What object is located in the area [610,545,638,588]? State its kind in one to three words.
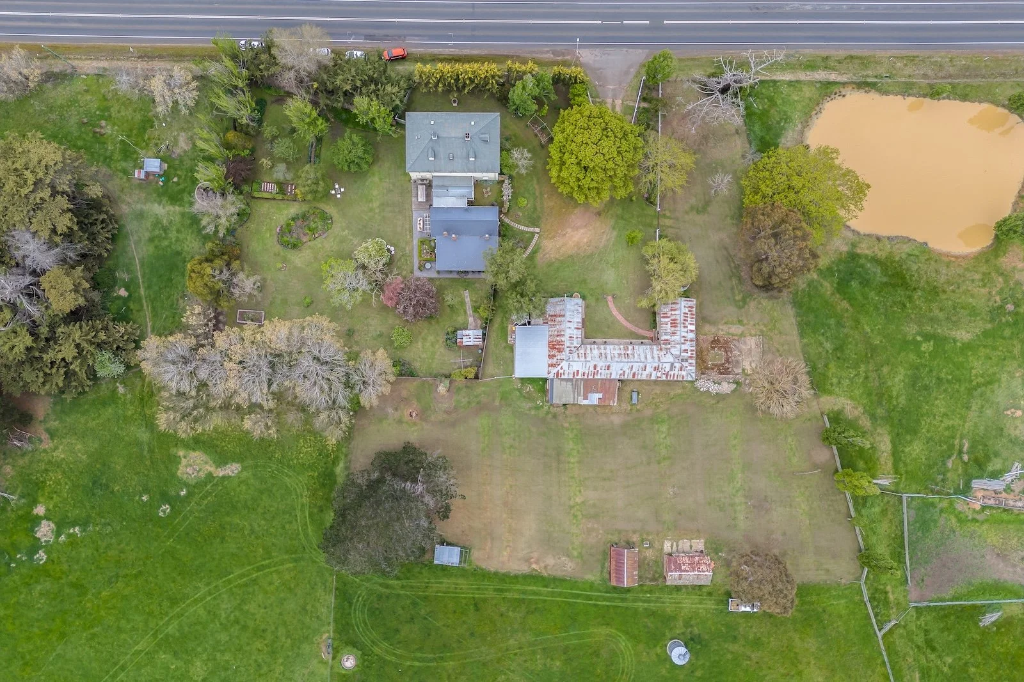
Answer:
shed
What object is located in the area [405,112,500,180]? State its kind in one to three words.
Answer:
house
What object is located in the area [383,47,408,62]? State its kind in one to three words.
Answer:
car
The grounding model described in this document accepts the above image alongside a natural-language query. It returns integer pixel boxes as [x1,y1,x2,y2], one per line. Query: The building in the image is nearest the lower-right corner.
[665,553,713,585]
